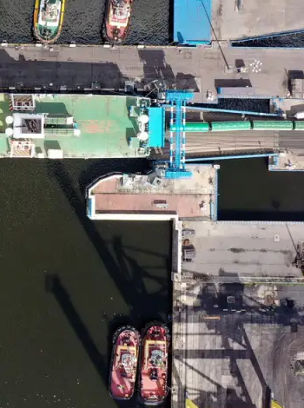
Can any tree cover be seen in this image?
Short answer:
No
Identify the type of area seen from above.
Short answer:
port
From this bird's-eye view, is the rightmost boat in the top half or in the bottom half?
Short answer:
bottom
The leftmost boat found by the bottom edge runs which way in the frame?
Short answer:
up and down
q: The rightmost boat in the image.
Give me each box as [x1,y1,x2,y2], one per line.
[138,317,169,406]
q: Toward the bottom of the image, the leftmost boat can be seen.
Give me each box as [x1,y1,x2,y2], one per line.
[107,321,140,400]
